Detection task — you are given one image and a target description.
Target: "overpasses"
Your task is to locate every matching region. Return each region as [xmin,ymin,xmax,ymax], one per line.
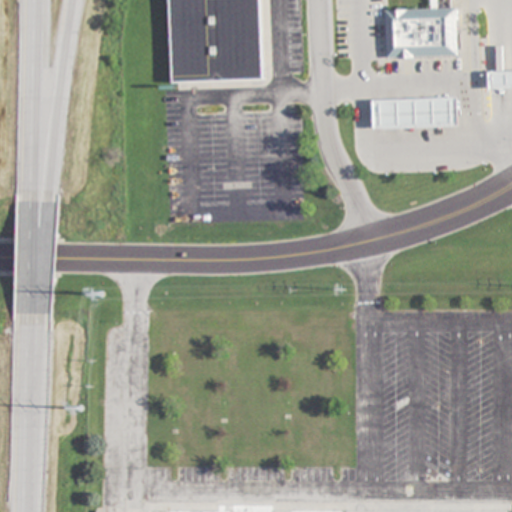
[12,190,60,326]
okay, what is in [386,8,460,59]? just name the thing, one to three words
building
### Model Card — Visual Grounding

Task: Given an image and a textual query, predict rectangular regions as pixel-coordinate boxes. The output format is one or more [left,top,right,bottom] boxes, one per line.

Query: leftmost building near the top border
[168,0,266,83]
